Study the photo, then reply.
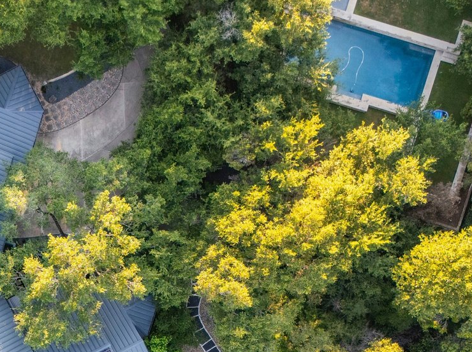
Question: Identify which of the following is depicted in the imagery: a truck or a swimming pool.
swimming pool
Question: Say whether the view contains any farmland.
No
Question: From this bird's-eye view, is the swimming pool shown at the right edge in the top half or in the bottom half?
top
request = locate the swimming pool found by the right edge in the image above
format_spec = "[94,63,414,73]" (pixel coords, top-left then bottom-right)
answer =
[311,4,459,116]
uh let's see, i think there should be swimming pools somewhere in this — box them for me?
[335,0,357,13]
[311,4,459,116]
